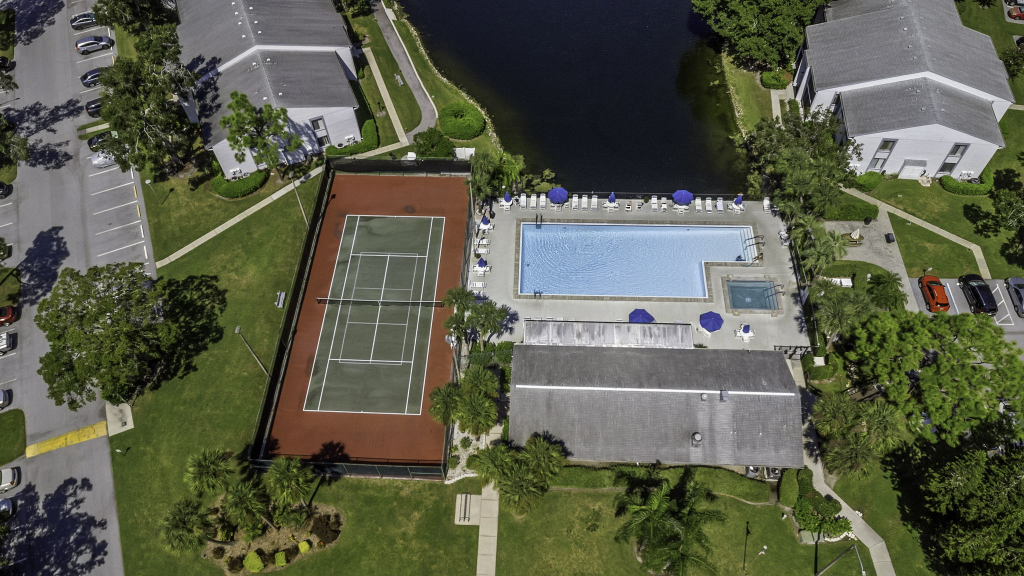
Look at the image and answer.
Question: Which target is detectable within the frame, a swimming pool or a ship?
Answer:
swimming pool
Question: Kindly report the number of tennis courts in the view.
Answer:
1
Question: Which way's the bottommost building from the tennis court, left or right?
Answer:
right of it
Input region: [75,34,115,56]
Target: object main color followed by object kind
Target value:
gray car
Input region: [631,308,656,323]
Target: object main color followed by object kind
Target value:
blue umbrella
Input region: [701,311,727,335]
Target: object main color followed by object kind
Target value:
blue umbrella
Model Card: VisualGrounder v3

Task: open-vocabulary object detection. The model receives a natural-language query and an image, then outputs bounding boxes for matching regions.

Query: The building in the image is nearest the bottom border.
[510,344,805,470]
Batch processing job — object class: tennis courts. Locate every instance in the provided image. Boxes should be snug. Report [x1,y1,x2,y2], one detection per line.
[262,174,472,478]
